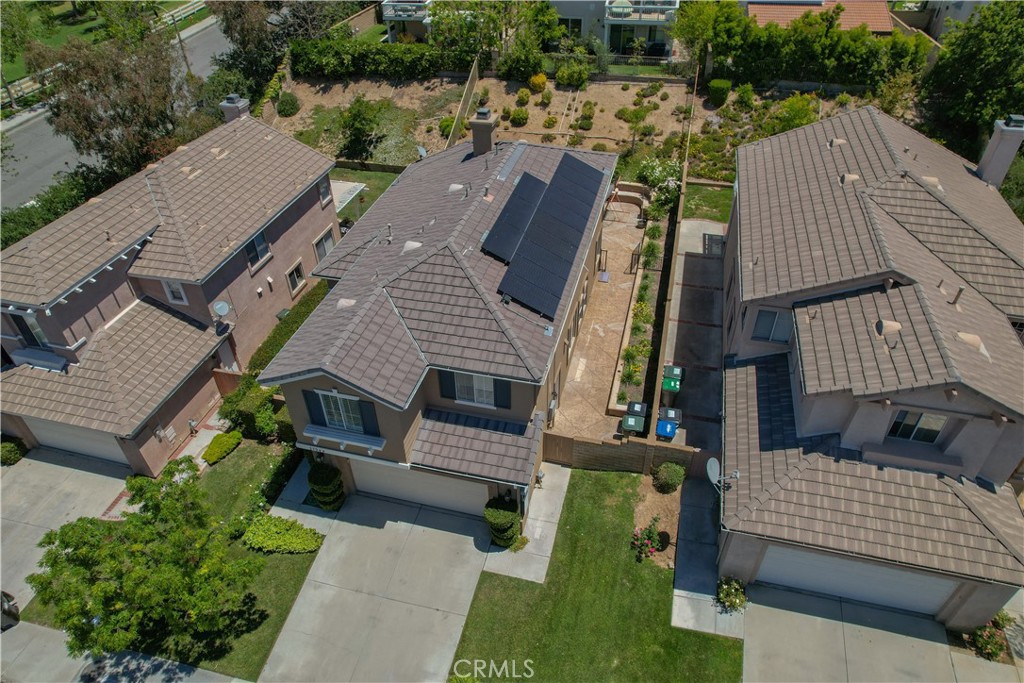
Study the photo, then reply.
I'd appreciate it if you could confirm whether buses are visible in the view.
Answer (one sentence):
No, there isn't any bus down there.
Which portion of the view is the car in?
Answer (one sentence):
The car appears toward the bottom left of the photo.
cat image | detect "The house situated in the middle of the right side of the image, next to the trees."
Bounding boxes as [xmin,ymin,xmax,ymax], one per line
[715,105,1024,633]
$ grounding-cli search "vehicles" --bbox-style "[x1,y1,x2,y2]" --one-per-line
[0,596,23,640]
